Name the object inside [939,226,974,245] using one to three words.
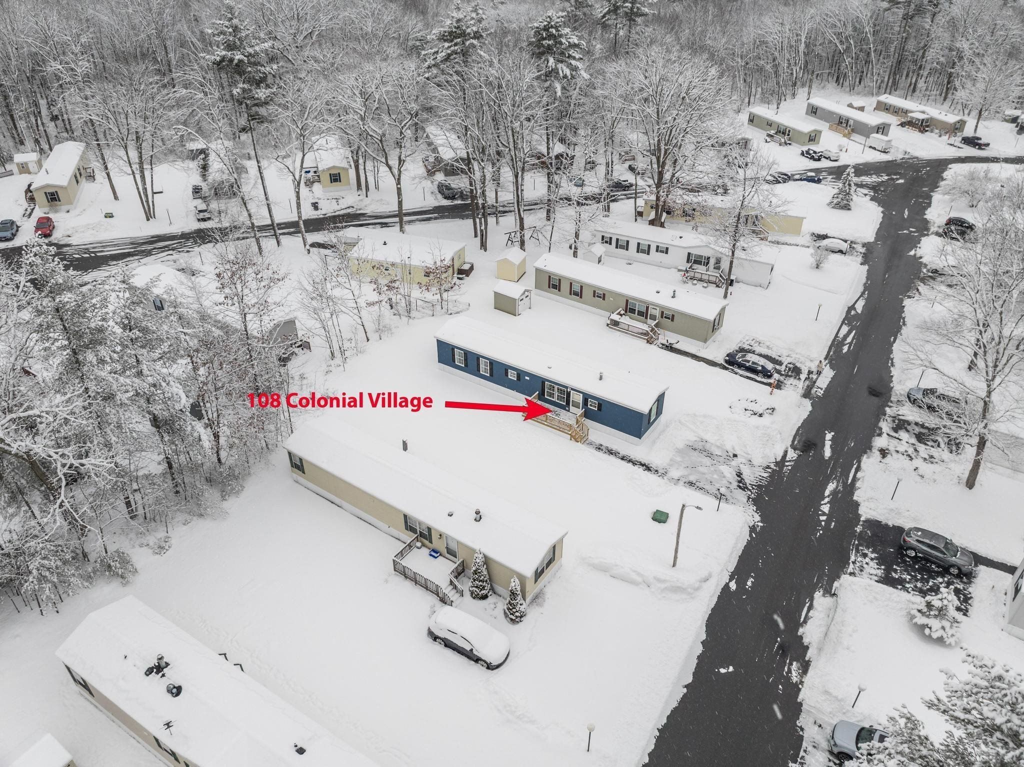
car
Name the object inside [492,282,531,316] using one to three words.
shed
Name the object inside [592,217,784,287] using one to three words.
house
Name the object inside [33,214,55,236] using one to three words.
car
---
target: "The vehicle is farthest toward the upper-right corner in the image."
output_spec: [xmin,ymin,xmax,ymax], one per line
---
[959,138,991,151]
